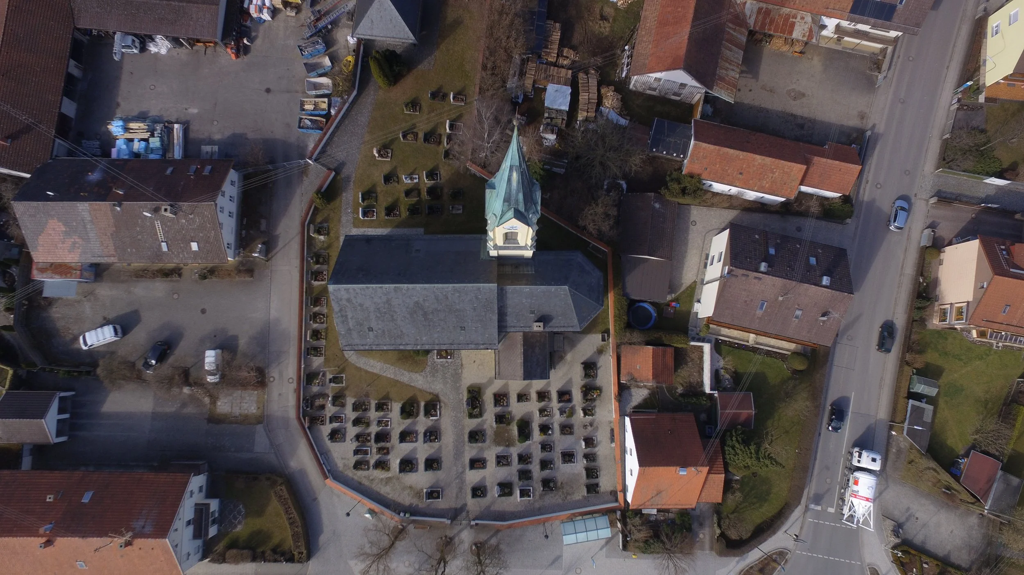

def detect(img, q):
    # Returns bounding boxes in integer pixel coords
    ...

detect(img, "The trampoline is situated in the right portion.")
[629,302,659,330]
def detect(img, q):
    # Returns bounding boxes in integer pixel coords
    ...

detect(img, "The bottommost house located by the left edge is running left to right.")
[0,465,241,575]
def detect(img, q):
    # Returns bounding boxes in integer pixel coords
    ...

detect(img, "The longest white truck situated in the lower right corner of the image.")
[839,448,880,538]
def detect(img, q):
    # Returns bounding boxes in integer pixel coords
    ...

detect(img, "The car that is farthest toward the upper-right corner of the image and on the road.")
[888,199,909,231]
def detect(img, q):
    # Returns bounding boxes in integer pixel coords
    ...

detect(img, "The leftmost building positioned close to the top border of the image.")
[0,0,90,181]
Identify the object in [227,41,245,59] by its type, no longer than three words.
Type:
work vehicle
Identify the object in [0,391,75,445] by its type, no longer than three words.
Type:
building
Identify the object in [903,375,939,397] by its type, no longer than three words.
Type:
greenhouse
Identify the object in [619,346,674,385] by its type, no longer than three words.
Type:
shed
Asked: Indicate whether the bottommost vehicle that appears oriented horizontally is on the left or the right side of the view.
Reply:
left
